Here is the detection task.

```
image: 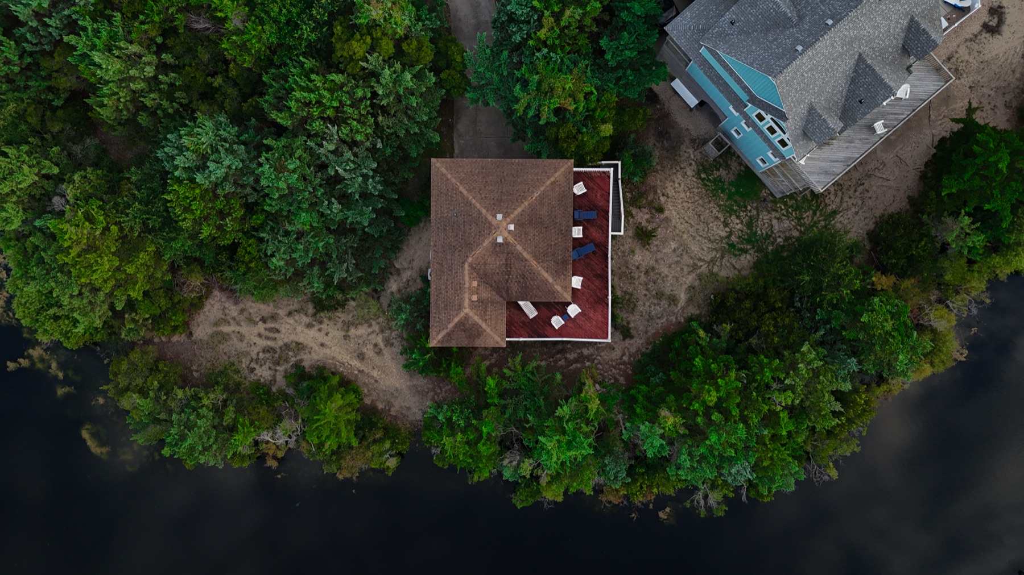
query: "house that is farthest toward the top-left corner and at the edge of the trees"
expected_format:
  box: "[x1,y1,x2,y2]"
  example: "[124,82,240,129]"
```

[430,158,573,347]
